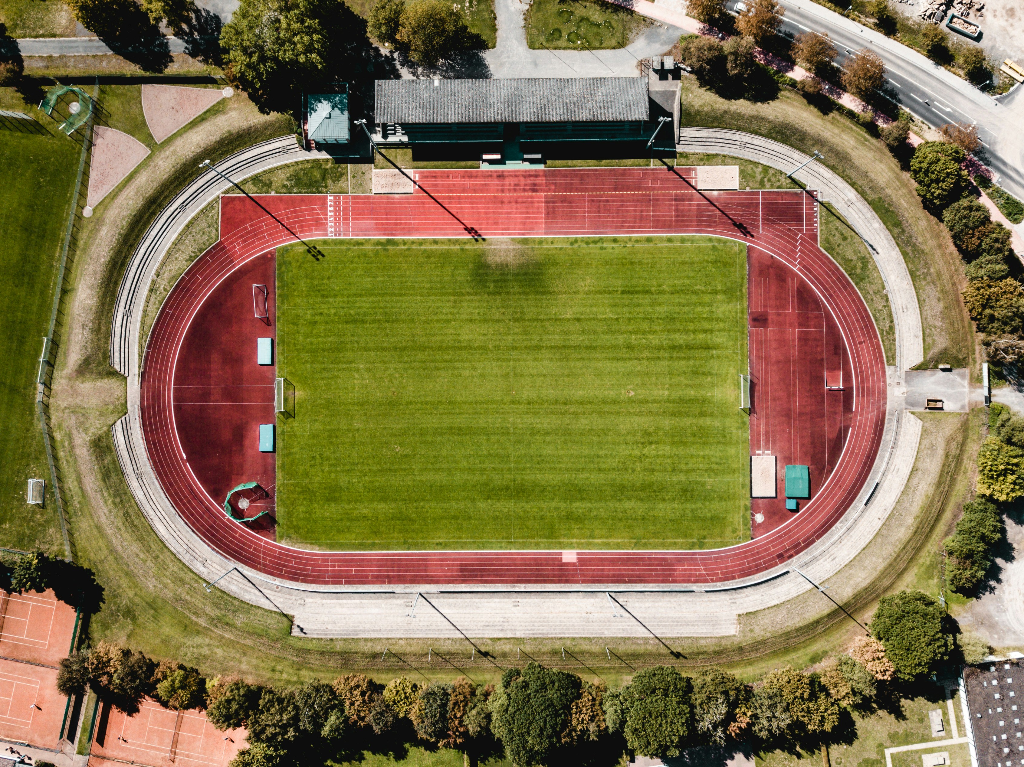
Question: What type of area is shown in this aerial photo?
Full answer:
What you see here is a sports ground.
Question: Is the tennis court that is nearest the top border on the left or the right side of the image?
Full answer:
The tennis court that is nearest the top border appears in the left half of the scene.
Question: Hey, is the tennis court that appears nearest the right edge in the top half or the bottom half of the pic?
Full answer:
The tennis court that appears nearest the right edge sits in the bottom half of the picture.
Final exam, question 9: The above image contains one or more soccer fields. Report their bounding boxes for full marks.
[0,121,82,555]
[275,235,751,551]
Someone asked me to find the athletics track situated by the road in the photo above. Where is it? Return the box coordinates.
[138,164,889,587]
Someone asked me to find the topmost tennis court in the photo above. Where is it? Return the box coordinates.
[0,583,77,668]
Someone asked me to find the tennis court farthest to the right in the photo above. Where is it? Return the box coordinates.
[88,694,250,767]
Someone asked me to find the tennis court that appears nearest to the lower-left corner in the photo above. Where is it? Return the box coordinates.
[0,659,70,750]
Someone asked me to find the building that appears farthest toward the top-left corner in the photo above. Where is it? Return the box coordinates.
[308,94,349,142]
